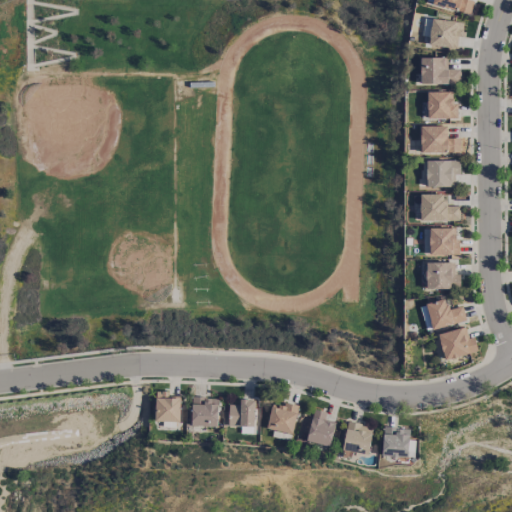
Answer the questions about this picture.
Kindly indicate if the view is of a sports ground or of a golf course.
sports ground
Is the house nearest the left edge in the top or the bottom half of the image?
bottom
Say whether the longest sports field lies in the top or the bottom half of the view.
top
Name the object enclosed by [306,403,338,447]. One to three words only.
house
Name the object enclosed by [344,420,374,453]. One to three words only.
house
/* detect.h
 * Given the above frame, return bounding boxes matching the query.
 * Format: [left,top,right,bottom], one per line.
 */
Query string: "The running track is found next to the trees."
[214,14,368,312]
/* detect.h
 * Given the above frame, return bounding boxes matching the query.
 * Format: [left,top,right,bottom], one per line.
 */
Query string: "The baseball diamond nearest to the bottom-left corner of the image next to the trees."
[40,206,175,316]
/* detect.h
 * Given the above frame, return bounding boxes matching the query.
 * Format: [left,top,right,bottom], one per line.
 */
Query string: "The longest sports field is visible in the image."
[230,32,350,296]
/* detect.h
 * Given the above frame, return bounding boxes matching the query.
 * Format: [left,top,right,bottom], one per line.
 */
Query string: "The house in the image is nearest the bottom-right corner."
[384,427,416,458]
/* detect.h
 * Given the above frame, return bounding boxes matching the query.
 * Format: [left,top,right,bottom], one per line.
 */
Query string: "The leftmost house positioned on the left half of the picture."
[156,392,182,429]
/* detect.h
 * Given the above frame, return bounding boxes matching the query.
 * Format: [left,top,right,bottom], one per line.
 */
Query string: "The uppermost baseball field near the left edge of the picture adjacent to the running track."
[17,78,174,206]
